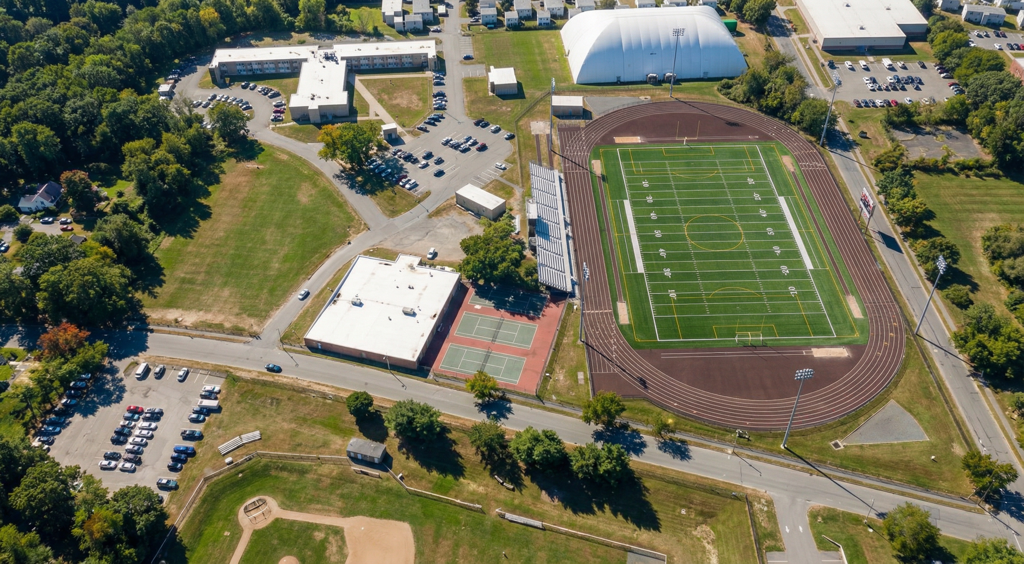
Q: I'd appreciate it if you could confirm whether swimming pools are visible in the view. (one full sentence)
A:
No, there appears to be no swimming pool in this shot.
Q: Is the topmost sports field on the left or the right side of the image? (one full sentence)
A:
The topmost sports field is on the right side of the image.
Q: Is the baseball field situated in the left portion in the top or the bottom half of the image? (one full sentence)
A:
The bottom half of the photo is where the baseball field situated in the left portion is.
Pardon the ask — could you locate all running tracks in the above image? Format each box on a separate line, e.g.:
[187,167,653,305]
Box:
[558,100,906,429]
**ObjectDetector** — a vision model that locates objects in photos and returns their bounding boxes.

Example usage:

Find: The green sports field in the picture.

[590,142,869,350]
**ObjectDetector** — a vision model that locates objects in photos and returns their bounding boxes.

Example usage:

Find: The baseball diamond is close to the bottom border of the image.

[229,497,414,564]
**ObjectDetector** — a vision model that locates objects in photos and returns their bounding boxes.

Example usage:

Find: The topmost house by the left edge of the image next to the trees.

[31,179,59,211]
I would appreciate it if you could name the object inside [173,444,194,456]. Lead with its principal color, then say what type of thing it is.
blue vehicle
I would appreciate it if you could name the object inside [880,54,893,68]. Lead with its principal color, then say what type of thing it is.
white vehicle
